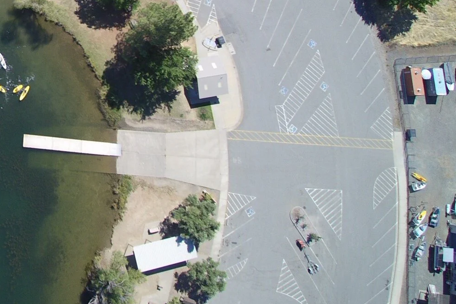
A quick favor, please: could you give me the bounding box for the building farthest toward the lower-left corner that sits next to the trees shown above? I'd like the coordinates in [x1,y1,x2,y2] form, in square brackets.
[134,233,197,272]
